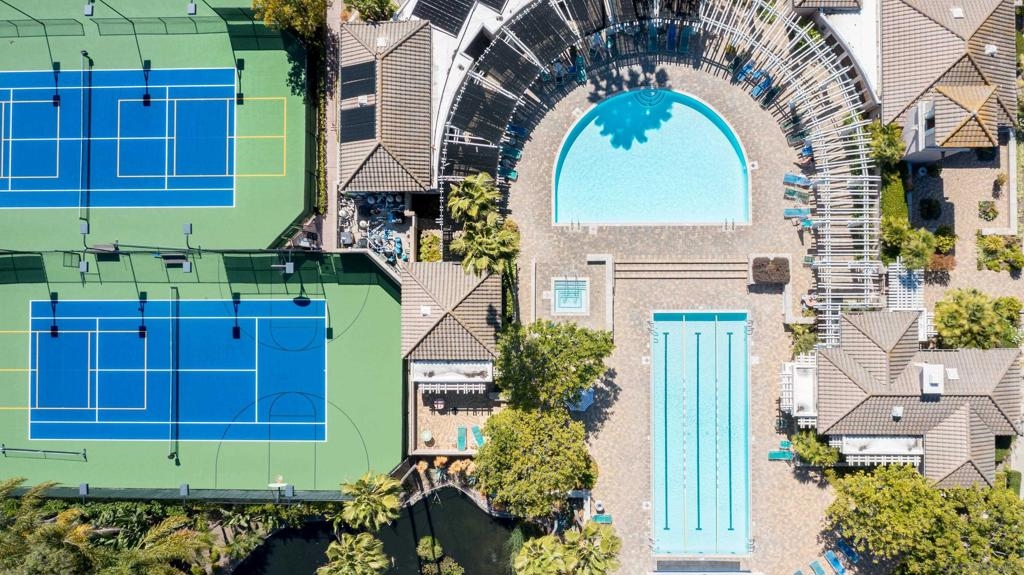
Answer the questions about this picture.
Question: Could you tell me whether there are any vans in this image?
No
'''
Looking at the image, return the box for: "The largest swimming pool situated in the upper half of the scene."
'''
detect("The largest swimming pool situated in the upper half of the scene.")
[550,86,752,227]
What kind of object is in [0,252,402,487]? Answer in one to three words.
sports court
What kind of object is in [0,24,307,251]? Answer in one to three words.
tennis court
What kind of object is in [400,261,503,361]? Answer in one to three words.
building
